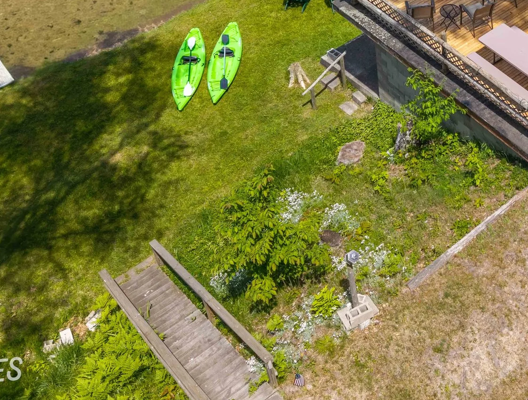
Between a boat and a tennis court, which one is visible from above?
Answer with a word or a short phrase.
boat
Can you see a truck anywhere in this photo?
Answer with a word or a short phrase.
No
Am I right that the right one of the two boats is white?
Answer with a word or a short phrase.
No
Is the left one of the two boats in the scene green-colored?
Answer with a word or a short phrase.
Yes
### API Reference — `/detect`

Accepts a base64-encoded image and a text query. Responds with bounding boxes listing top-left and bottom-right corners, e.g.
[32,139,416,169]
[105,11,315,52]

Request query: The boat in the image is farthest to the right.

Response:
[208,22,243,108]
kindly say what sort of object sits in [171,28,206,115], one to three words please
boat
